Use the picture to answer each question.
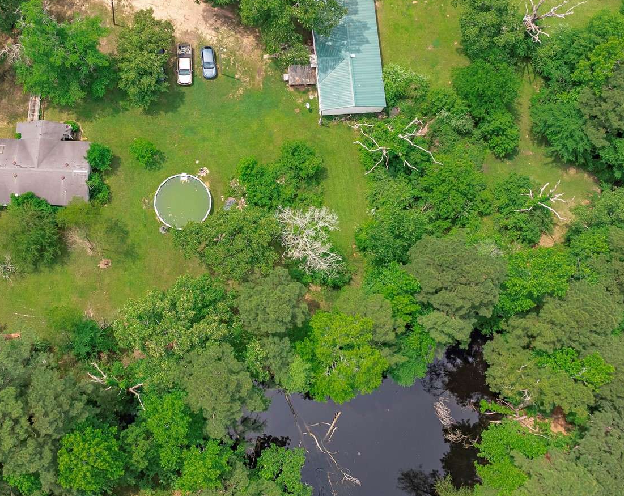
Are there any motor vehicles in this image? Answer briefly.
Yes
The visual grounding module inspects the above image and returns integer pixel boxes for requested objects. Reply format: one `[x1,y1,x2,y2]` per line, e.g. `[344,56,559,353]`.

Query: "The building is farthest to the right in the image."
[312,0,387,119]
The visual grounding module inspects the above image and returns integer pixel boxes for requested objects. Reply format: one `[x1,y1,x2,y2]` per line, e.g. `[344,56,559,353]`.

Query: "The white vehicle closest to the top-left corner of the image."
[175,43,194,87]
